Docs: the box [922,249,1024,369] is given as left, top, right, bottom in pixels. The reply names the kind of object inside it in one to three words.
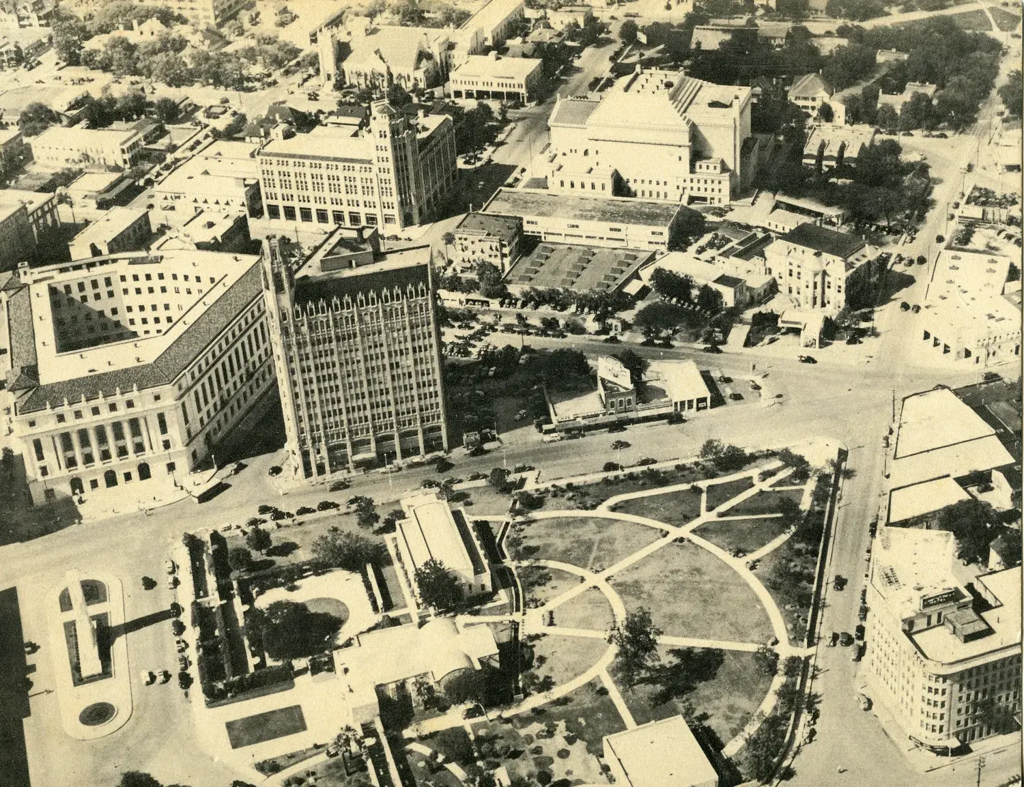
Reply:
building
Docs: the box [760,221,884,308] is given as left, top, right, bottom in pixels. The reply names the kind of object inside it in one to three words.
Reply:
house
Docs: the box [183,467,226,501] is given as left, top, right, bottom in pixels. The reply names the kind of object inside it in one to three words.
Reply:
bus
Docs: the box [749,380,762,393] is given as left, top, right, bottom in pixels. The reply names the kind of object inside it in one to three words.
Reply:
vehicle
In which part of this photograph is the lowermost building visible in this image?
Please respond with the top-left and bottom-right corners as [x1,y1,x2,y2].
[603,715,725,787]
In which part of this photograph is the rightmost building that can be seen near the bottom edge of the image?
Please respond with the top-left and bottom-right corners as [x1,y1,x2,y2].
[869,528,1024,762]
